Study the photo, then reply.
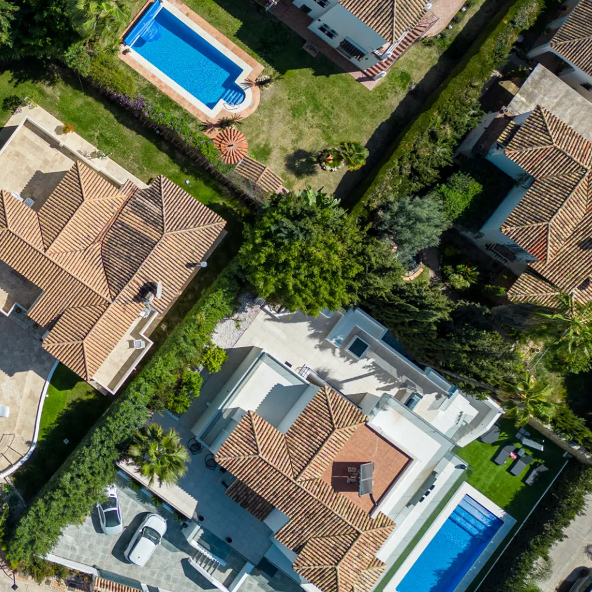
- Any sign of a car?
Yes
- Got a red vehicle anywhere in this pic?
No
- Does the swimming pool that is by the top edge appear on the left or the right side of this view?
left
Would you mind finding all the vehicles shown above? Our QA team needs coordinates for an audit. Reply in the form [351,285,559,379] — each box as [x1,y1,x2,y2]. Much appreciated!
[125,510,166,568]
[100,487,125,538]
[564,560,592,592]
